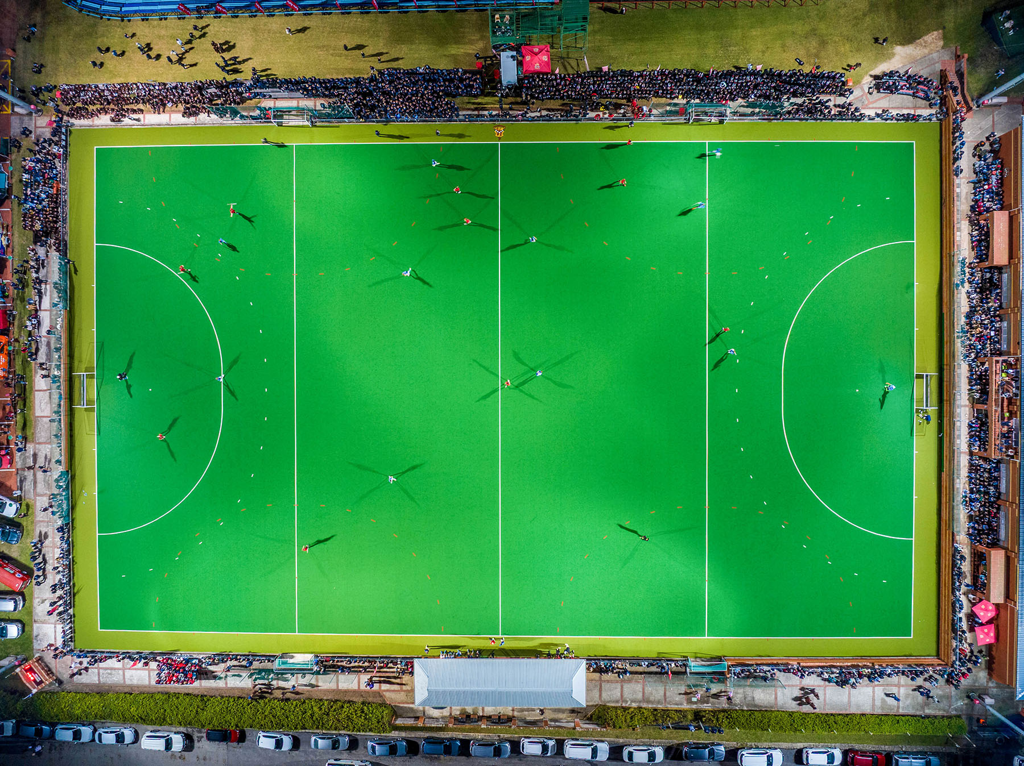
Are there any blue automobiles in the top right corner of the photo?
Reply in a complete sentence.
No, I can find no blue automobile in the top right corner of the photo.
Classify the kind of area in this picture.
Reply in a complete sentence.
It's a sports ground.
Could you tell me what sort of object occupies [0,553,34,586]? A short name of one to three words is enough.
van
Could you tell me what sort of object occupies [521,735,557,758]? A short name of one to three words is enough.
car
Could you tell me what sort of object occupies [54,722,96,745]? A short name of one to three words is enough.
car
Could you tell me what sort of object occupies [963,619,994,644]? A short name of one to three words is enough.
gazebo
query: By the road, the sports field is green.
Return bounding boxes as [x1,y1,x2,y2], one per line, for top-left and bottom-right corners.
[68,121,942,658]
